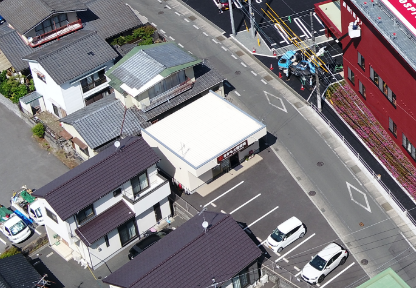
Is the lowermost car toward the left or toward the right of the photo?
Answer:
right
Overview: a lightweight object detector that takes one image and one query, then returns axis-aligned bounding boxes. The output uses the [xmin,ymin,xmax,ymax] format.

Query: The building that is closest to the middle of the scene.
[140,95,272,200]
